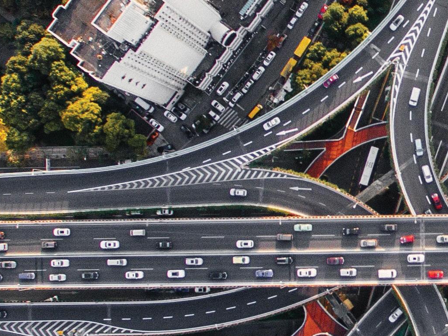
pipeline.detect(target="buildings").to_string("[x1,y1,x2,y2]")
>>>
[45,0,234,110]
[240,0,270,24]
